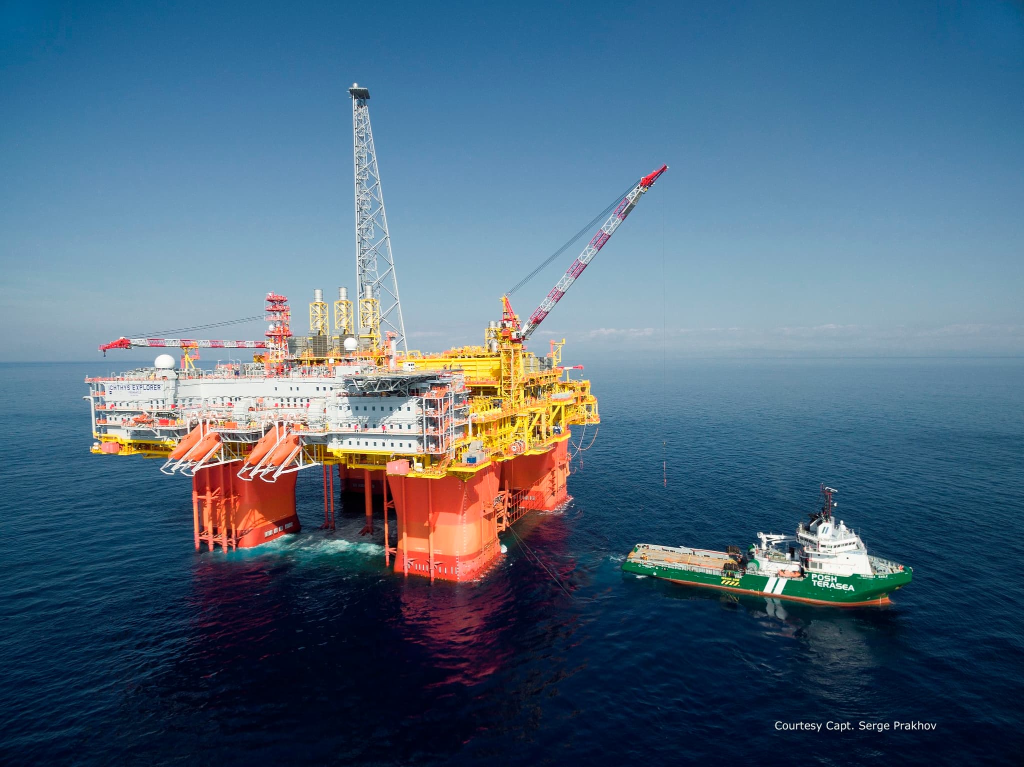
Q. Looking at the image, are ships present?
Yes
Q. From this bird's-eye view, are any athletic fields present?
No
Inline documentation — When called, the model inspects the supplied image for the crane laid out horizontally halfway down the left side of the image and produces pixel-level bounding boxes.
[95,309,285,367]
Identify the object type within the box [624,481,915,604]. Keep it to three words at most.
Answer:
ship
